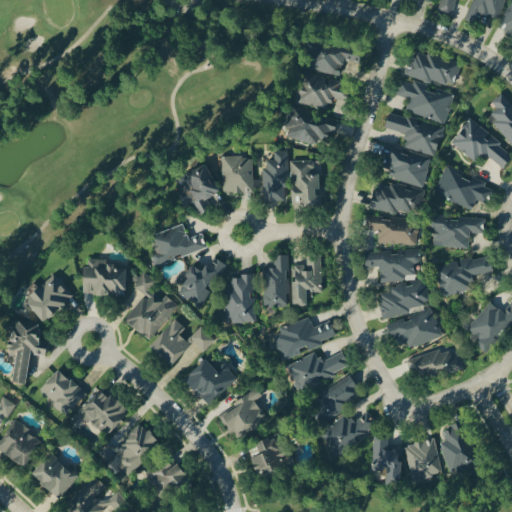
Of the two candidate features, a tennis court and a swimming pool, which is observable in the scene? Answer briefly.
swimming pool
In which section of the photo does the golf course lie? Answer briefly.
top left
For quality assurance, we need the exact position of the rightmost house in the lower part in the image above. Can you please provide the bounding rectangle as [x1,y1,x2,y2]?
[469,300,512,352]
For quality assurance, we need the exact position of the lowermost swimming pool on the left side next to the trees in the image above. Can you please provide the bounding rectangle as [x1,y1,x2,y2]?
[58,445,82,466]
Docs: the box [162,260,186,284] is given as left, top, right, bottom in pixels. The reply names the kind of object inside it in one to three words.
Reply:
swimming pool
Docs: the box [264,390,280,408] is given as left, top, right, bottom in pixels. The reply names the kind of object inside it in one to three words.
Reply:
swimming pool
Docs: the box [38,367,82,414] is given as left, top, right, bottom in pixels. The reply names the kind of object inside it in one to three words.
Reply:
house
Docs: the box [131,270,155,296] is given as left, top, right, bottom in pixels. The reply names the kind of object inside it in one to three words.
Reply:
building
